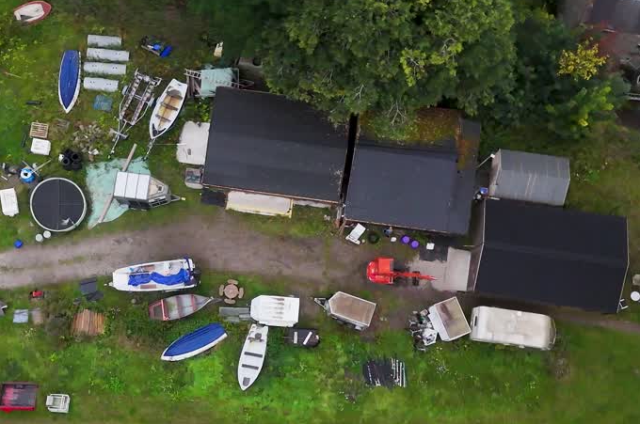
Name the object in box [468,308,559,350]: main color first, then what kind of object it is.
white camper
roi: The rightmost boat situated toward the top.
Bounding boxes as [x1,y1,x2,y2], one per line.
[154,80,187,136]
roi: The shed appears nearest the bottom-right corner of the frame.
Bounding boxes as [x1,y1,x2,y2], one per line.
[466,198,629,314]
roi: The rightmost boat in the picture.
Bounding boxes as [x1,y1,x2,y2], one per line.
[238,323,269,391]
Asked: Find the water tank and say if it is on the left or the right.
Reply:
left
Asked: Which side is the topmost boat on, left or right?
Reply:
left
